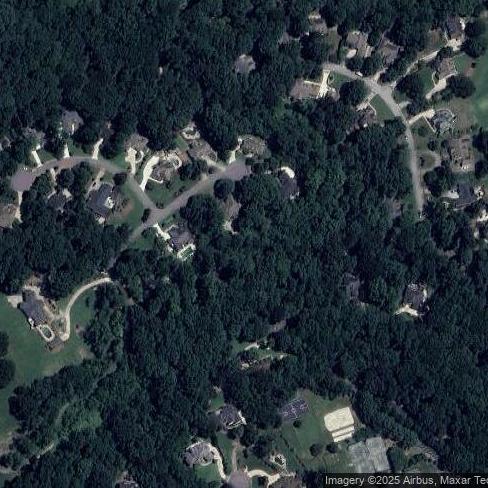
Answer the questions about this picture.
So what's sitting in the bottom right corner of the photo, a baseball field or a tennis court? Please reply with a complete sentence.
Looking in the bottom right corner of the photo, you will find a tennis court.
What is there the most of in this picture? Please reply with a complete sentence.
What you mostly see from above here is trees.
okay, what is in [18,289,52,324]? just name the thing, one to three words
house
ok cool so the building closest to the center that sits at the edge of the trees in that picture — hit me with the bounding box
[221,194,239,220]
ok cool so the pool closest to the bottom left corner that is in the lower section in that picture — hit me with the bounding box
[38,324,54,342]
